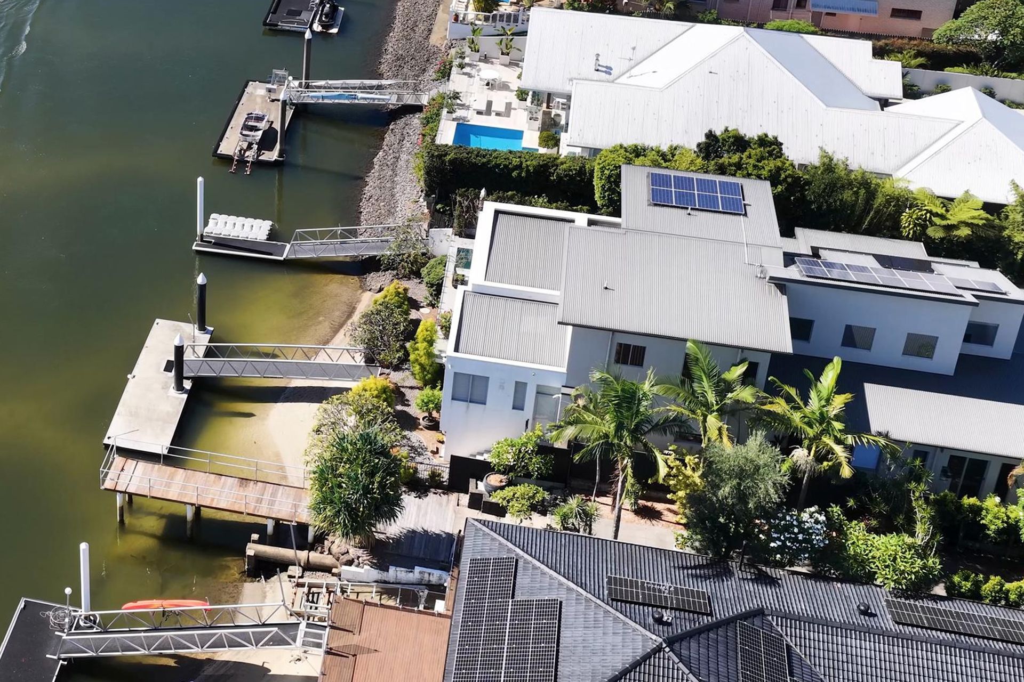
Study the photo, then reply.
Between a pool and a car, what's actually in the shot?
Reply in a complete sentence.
This aerial view contains a pool.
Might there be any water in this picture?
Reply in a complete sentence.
Yes, there is water in the image.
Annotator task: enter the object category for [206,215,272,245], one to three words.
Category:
pier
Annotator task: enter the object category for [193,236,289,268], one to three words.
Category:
pier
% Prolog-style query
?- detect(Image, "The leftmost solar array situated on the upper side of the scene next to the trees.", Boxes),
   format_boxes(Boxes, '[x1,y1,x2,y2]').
[651,172,745,214]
